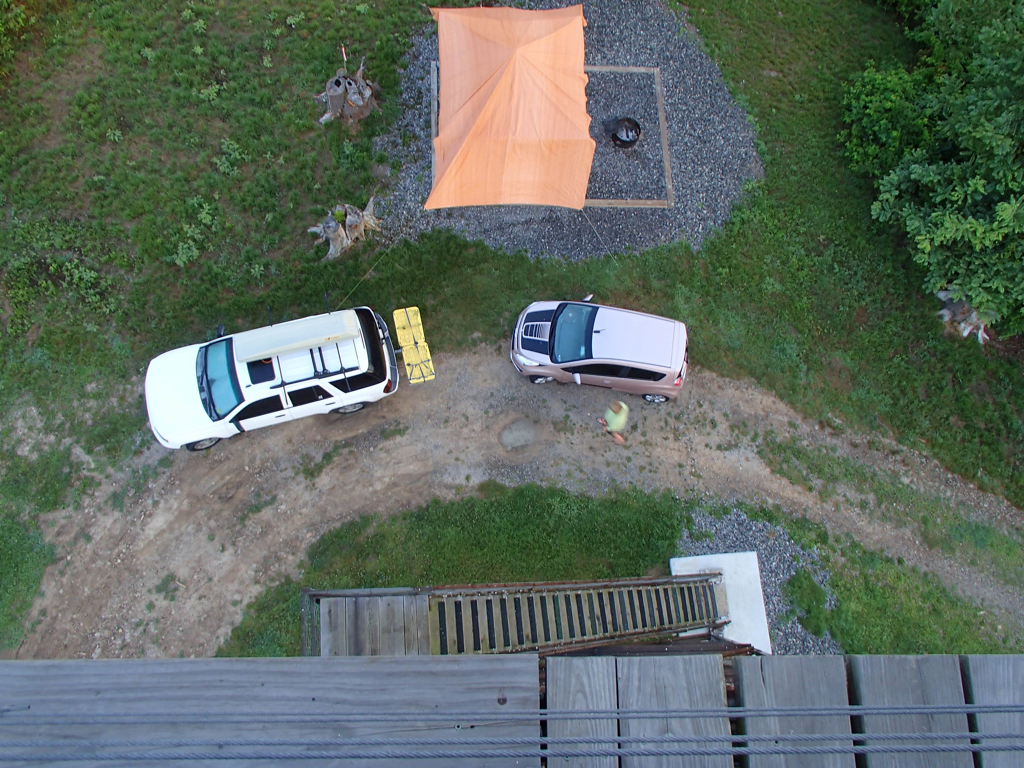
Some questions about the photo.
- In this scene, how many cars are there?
two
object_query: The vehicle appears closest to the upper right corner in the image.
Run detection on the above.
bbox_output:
[510,297,693,404]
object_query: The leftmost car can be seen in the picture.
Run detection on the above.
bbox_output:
[146,289,401,451]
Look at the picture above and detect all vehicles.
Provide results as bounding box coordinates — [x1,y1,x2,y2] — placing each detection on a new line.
[146,289,401,451]
[510,297,693,404]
